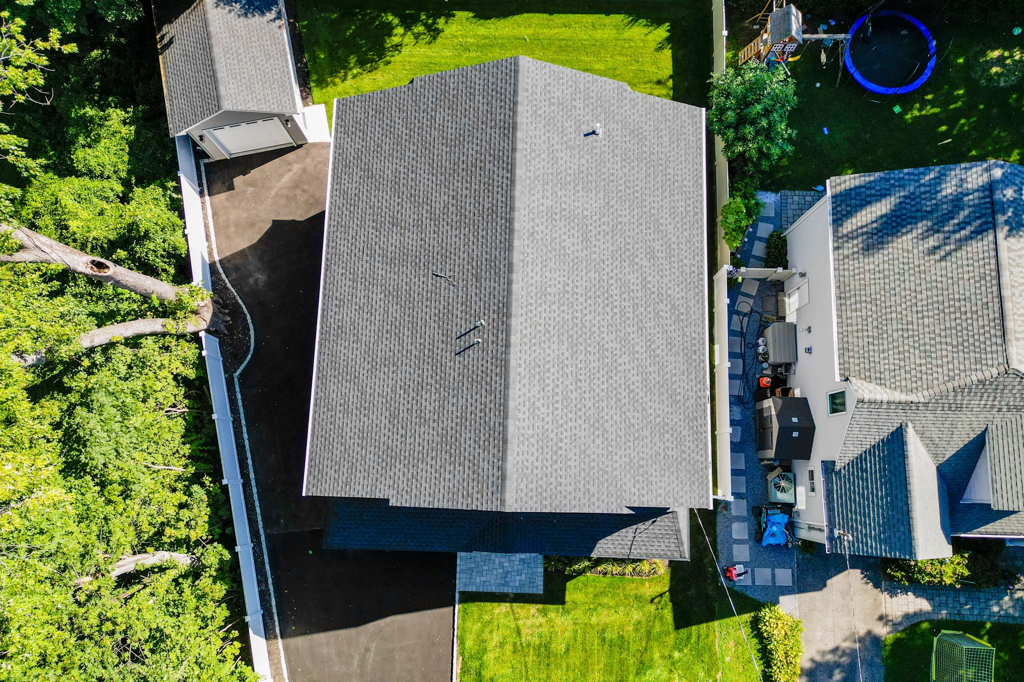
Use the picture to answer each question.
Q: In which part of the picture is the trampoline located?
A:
top right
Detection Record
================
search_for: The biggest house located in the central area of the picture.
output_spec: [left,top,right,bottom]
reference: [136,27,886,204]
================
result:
[293,54,716,516]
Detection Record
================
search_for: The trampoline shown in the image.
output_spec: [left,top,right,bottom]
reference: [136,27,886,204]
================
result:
[841,0,952,102]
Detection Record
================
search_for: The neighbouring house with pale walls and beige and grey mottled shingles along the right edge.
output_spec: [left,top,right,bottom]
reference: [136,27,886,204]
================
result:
[779,162,1024,559]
